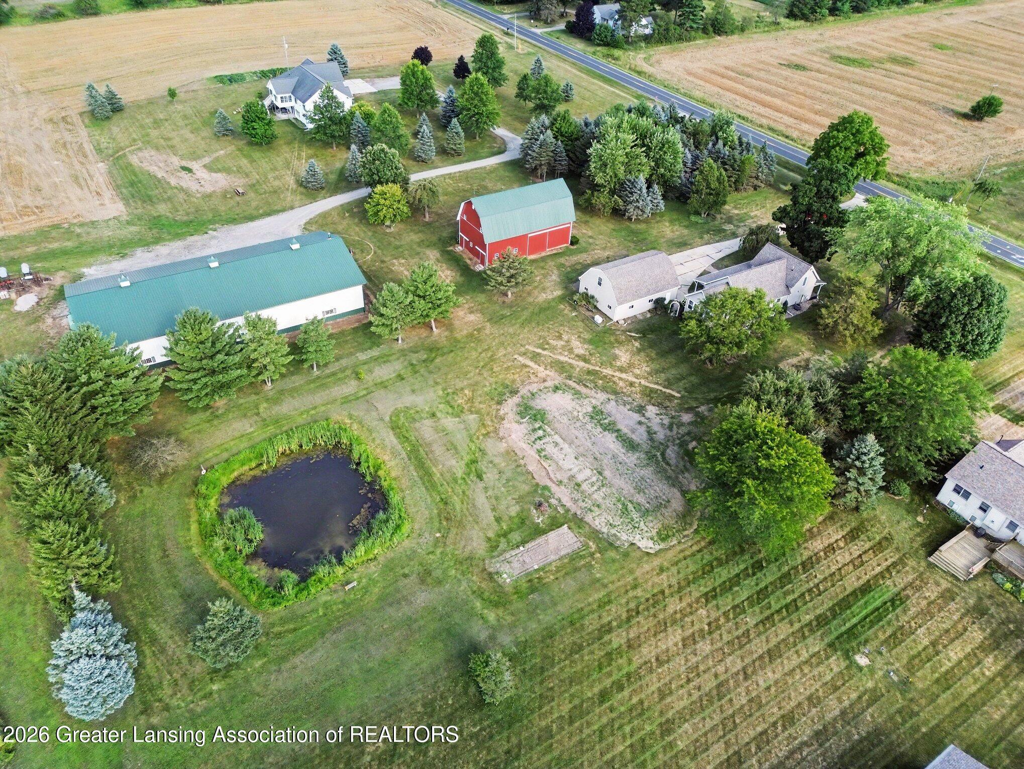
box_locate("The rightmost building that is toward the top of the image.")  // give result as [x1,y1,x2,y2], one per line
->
[684,241,829,316]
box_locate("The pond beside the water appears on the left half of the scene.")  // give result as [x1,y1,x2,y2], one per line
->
[217,450,387,585]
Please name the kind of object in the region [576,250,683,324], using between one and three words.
building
